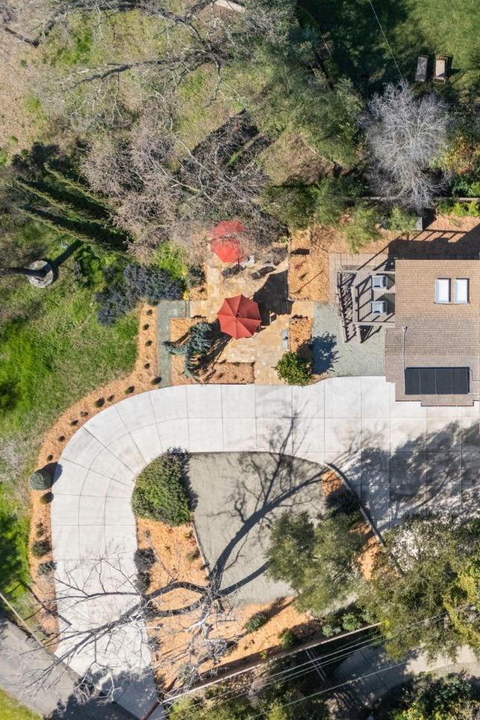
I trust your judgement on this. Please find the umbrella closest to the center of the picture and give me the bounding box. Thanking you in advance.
[216,293,261,340]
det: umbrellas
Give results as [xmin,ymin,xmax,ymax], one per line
[216,293,261,340]
[208,222,245,261]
